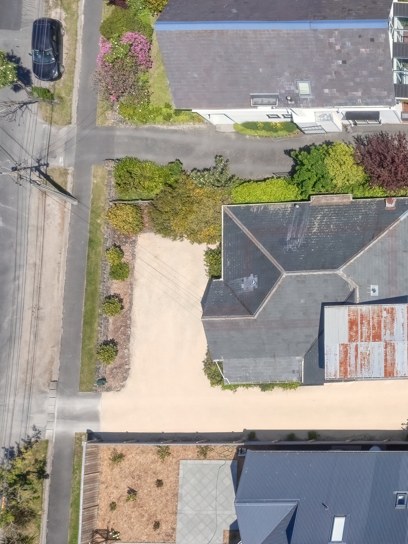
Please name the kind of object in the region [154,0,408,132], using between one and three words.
house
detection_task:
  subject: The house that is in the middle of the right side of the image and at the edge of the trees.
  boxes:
[202,193,408,384]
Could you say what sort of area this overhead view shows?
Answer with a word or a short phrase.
residential area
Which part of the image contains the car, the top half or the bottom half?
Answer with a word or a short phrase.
top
